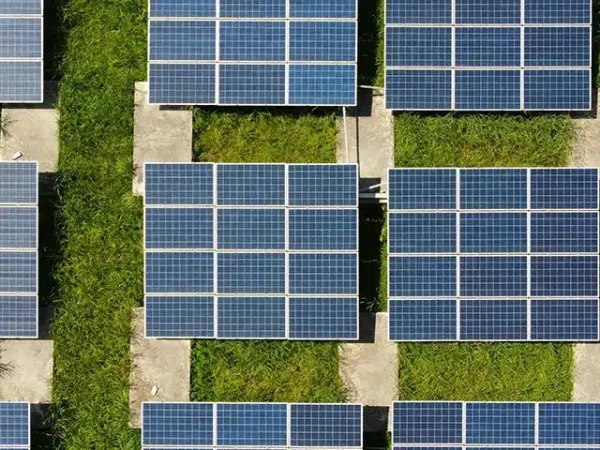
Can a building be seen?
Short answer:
No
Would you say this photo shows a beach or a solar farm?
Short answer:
solar farm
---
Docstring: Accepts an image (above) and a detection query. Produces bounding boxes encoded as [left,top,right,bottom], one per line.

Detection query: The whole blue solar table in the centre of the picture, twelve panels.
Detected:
[144,162,359,339]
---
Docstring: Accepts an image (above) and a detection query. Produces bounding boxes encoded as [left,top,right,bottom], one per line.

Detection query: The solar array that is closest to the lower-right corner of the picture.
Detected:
[391,401,600,450]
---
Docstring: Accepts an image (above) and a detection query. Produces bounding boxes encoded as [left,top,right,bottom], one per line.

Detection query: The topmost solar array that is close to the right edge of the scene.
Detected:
[384,0,591,111]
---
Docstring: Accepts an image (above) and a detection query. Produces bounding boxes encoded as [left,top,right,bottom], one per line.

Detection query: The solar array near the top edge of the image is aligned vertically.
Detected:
[0,0,45,103]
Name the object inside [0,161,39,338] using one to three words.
solar array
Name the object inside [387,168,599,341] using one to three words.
solar array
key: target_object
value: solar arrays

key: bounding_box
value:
[384,0,591,111]
[391,401,600,450]
[0,400,31,450]
[141,401,363,450]
[0,0,45,103]
[0,161,39,338]
[387,168,599,341]
[148,0,358,106]
[144,162,359,339]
